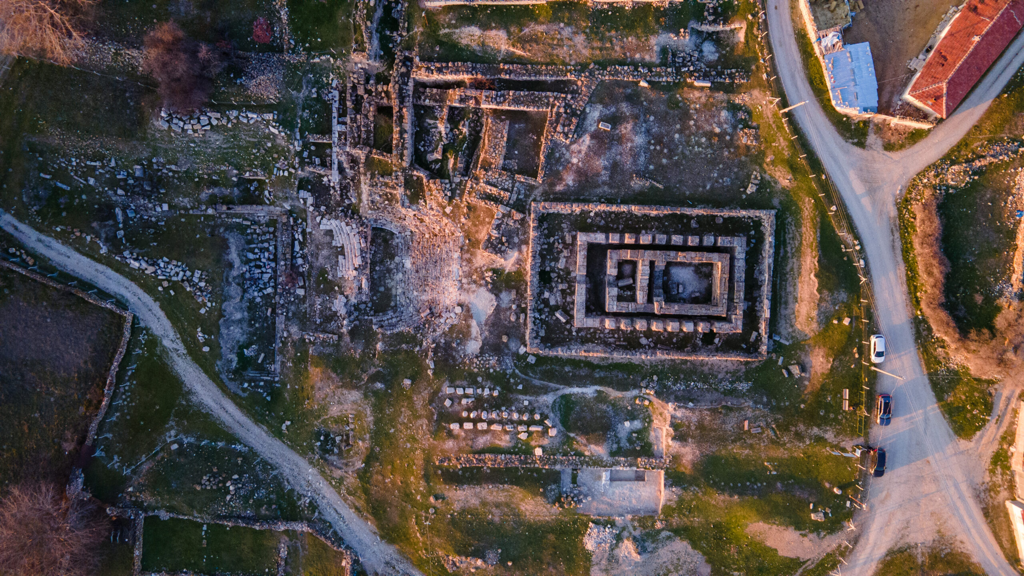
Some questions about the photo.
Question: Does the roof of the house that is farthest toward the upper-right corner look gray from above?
No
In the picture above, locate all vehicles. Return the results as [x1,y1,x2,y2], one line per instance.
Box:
[871,450,887,477]
[869,336,885,363]
[876,396,892,423]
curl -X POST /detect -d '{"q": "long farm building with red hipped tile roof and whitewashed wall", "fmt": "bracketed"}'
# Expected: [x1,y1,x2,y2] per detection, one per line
[899,0,1024,119]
